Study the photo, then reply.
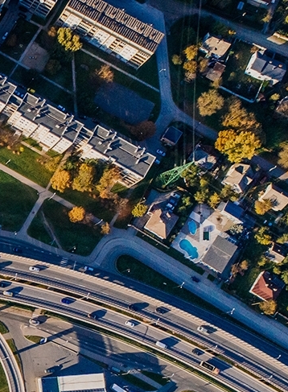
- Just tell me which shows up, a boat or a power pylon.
power pylon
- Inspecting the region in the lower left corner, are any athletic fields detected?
No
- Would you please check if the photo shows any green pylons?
Yes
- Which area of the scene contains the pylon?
center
